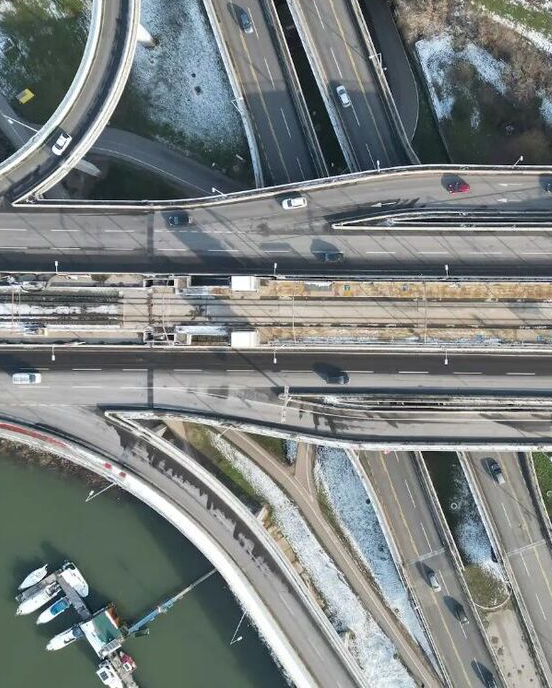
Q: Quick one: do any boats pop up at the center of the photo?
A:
No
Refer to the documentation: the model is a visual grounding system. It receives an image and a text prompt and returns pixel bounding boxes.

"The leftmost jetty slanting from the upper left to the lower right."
[54,575,91,621]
